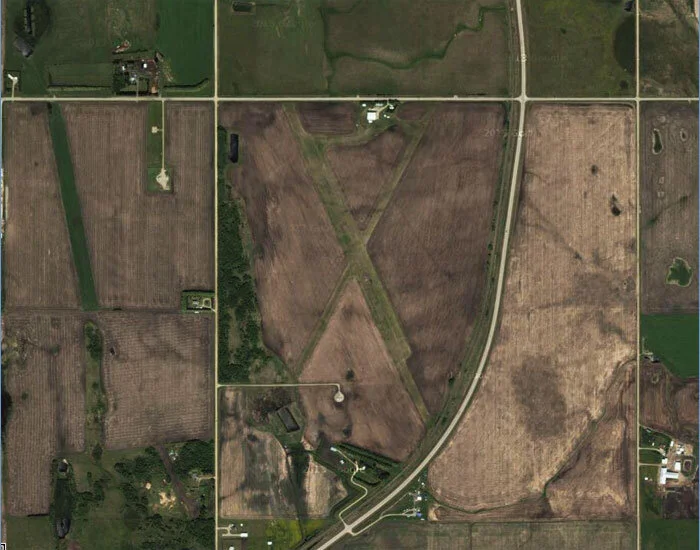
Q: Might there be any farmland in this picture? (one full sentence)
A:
Yes, the picture does contain farmland.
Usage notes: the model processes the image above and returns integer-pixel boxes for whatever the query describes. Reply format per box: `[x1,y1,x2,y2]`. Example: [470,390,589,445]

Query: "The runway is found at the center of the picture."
[282,102,435,426]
